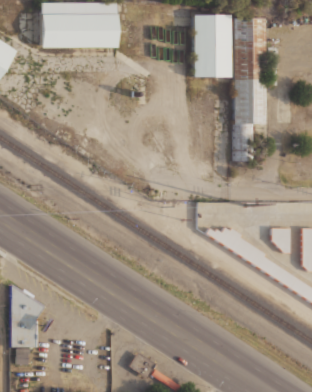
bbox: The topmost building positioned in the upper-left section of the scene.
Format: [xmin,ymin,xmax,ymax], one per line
[40,2,122,48]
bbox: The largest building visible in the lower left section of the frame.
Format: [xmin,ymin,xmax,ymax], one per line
[9,285,46,348]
